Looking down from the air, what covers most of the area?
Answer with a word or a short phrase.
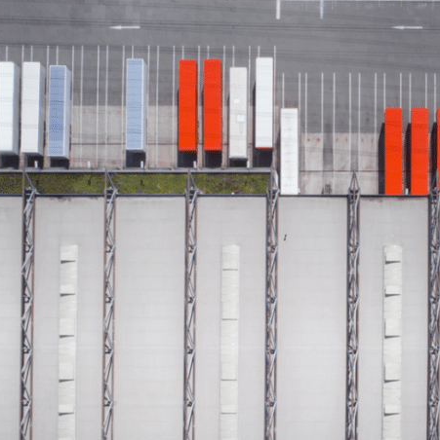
buildings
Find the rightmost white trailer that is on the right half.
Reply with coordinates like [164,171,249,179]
[280,107,298,193]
